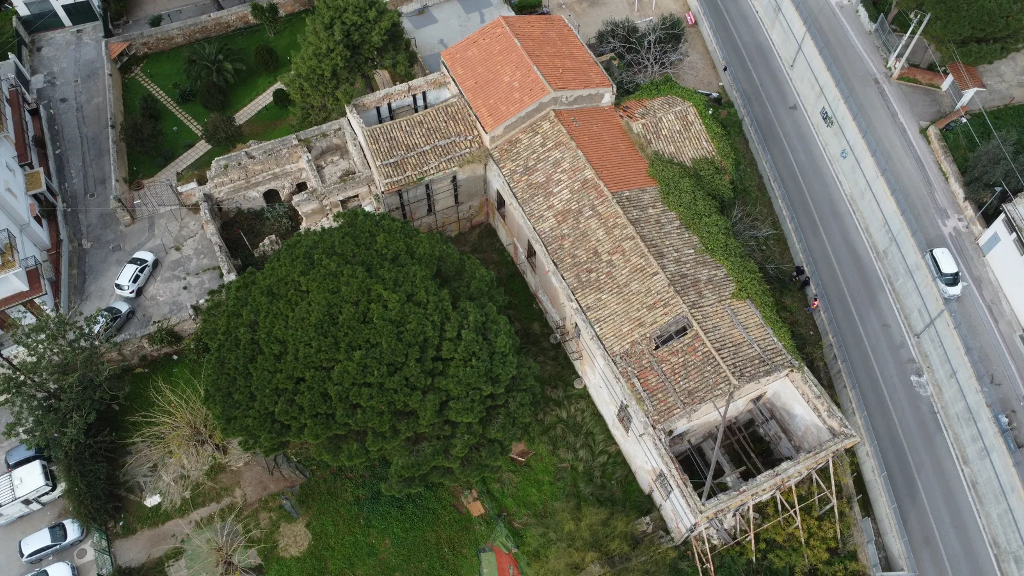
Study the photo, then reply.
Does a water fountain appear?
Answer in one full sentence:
No, the scene contains no water fountain.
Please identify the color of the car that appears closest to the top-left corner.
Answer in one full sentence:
In this view, the car that appears closest to the top-left corner is white.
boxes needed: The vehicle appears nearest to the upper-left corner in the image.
[104,246,158,297]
